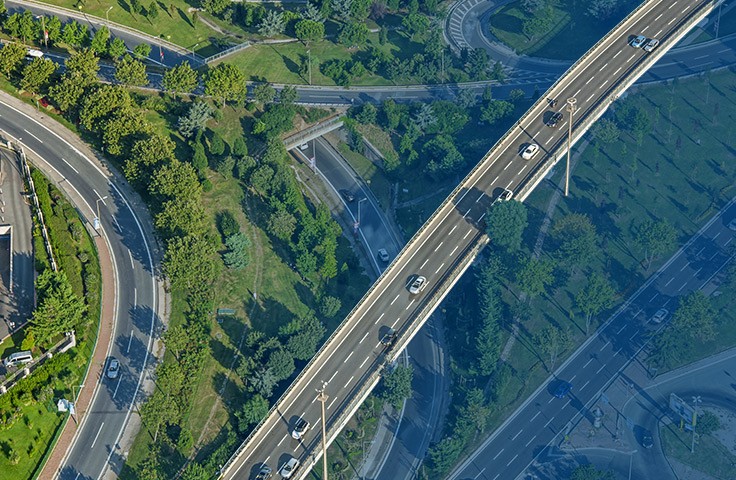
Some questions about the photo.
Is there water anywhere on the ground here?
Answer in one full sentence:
No, there's no water in this view.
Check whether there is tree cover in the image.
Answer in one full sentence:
Yes, the picture does contain tree cover.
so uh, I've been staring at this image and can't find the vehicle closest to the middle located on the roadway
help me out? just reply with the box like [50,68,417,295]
[377,246,390,262]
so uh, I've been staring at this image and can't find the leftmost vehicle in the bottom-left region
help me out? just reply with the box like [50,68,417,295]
[4,349,32,366]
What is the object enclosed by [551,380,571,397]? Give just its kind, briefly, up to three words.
car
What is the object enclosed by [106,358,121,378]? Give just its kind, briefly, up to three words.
car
